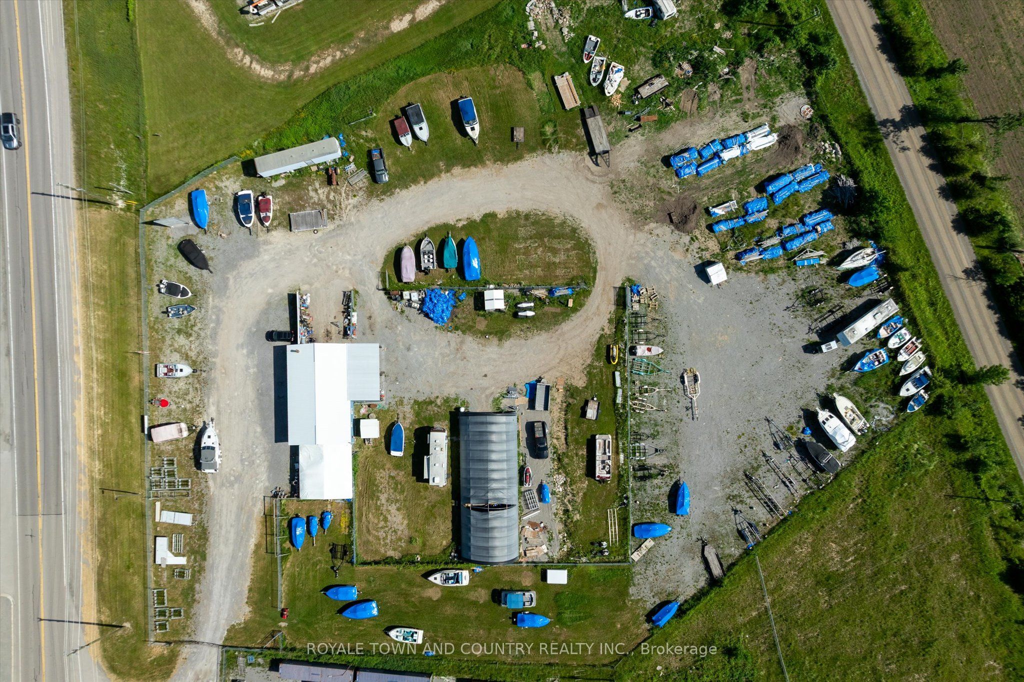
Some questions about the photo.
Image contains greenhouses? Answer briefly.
Yes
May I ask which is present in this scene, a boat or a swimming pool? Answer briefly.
boat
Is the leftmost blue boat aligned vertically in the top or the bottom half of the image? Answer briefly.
top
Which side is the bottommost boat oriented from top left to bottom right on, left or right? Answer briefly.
right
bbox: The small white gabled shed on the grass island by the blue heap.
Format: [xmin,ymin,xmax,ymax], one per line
[485,290,504,310]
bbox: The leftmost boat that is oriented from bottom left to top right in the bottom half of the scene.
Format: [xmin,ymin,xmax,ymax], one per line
[649,601,680,629]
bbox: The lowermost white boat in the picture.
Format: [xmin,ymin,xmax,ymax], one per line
[388,627,424,645]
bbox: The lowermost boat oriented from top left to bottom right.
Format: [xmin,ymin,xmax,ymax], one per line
[805,441,842,478]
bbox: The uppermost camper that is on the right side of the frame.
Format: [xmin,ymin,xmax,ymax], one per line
[654,0,677,21]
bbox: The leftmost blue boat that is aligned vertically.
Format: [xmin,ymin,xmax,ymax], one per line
[190,186,210,228]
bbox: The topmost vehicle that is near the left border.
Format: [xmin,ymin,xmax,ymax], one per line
[2,112,23,151]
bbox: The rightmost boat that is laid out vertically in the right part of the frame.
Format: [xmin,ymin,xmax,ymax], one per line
[675,481,690,520]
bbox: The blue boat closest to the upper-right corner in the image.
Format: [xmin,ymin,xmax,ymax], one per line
[847,264,883,286]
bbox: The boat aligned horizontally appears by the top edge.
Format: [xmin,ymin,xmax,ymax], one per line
[624,5,653,19]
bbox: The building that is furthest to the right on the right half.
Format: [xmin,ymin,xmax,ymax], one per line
[702,263,727,287]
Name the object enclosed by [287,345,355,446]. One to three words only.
building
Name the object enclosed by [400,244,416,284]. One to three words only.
boat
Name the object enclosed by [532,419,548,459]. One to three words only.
vehicle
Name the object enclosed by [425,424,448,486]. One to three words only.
camper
